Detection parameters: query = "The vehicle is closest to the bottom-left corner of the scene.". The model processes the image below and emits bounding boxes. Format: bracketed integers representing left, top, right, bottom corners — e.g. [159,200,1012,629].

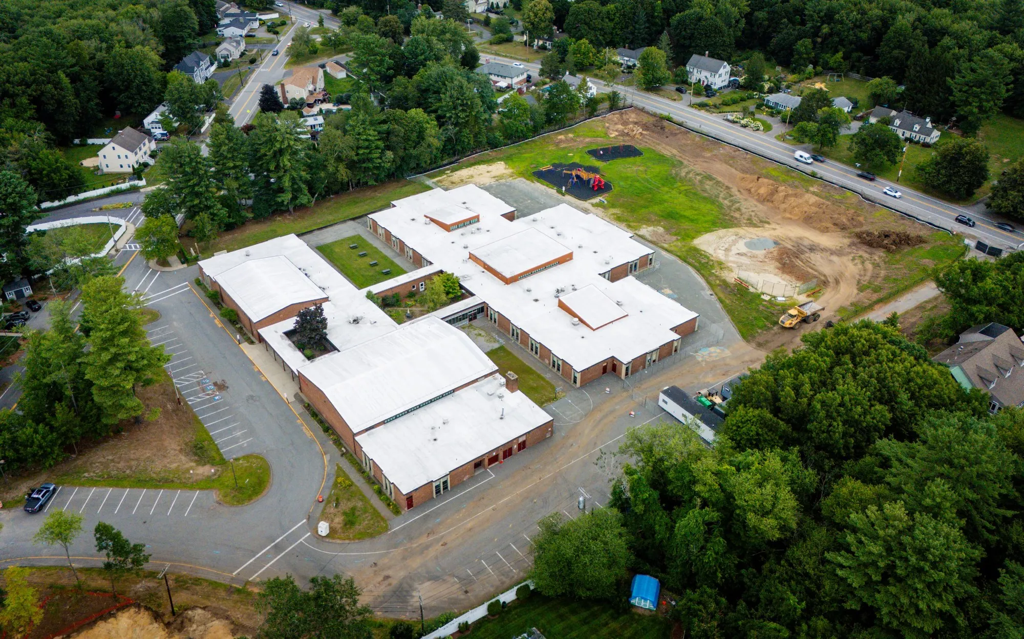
[23,481,55,506]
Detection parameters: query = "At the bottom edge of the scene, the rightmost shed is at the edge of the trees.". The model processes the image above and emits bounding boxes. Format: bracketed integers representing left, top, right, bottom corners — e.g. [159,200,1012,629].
[629,564,664,610]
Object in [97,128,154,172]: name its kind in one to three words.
house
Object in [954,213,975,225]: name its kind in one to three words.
vehicle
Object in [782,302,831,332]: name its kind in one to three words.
truck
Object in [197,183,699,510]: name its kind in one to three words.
building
